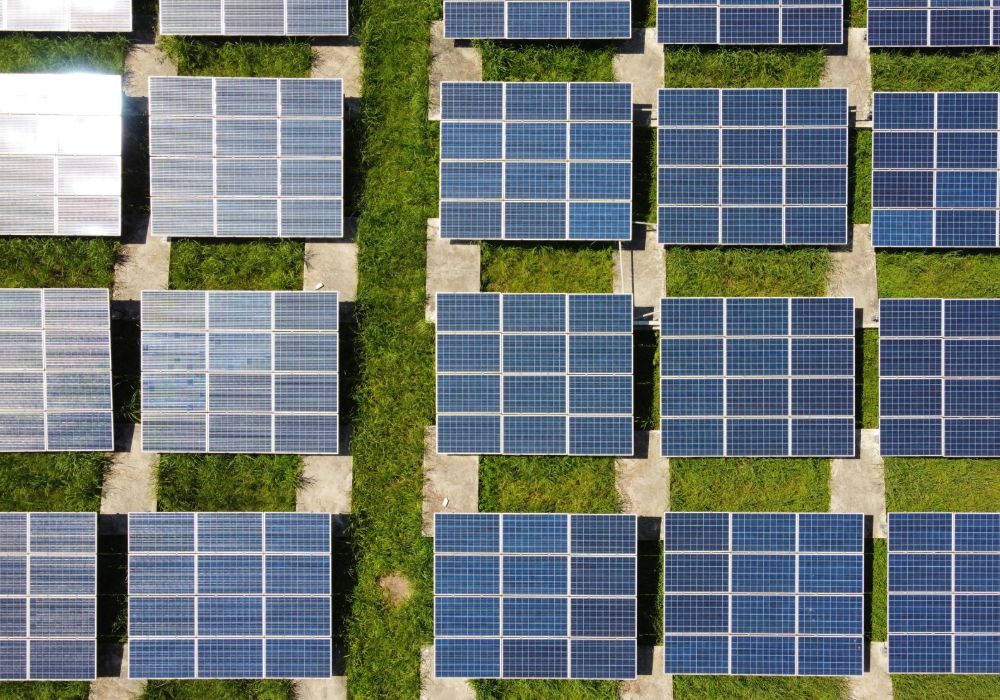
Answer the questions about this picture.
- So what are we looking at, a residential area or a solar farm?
solar farm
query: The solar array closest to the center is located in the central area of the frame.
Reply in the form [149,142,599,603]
[437,293,634,454]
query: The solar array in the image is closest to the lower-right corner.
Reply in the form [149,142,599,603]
[876,512,1000,675]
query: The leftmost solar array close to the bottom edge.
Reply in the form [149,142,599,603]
[0,514,108,679]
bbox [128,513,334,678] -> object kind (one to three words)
solar array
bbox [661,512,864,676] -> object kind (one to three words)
solar array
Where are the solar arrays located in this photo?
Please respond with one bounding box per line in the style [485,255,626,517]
[437,293,634,454]
[142,291,341,452]
[0,290,118,452]
[149,78,345,235]
[862,0,1000,50]
[661,512,864,676]
[435,514,638,679]
[0,514,108,679]
[160,0,349,39]
[0,0,138,35]
[876,512,1000,675]
[862,92,1000,248]
[868,298,1000,457]
[656,298,854,457]
[439,82,632,240]
[0,77,133,235]
[443,0,632,43]
[128,513,334,678]
[656,0,843,47]
[654,88,848,244]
